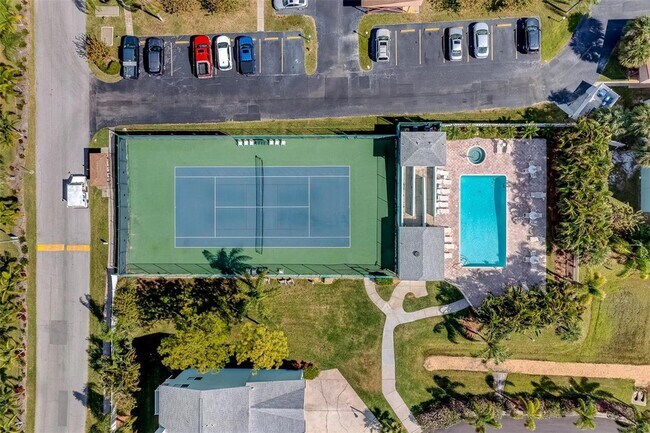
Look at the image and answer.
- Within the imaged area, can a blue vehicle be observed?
Yes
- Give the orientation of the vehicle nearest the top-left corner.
from top to bottom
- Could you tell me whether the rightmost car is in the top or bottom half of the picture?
top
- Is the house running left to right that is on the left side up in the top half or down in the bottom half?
bottom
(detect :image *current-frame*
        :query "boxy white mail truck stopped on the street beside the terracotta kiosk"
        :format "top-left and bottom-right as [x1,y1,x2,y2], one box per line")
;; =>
[64,175,88,209]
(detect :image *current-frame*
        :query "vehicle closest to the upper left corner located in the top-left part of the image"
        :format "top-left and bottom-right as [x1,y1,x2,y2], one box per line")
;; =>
[121,37,141,79]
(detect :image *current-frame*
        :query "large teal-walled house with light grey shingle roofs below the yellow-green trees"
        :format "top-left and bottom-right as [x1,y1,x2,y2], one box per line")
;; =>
[154,370,305,433]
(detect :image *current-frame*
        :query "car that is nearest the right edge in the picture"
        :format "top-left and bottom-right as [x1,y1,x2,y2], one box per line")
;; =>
[520,19,540,55]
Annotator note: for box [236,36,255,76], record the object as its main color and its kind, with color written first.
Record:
blue vehicle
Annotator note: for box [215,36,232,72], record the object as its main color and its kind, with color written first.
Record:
white car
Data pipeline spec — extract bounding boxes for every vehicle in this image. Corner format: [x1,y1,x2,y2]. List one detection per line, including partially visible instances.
[215,36,232,72]
[194,36,213,80]
[520,19,540,55]
[375,30,391,63]
[145,38,164,76]
[273,0,310,11]
[64,175,88,209]
[472,23,490,60]
[447,28,464,62]
[121,37,141,79]
[236,36,255,76]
